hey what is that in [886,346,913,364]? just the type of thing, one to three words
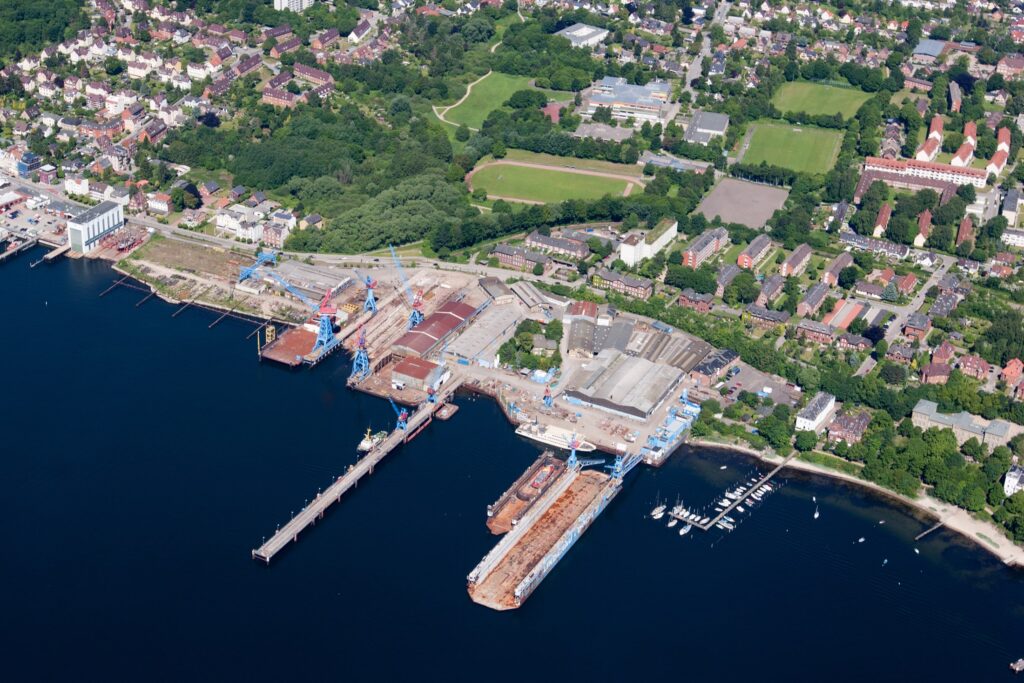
house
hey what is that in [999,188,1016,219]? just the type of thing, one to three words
building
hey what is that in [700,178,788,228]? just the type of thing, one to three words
sports field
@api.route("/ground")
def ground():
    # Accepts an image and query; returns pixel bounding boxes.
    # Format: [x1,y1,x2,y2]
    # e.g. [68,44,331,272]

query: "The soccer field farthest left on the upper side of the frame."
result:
[472,164,630,200]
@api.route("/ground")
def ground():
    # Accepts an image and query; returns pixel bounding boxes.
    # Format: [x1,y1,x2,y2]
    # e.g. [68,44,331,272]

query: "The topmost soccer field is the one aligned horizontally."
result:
[771,80,869,119]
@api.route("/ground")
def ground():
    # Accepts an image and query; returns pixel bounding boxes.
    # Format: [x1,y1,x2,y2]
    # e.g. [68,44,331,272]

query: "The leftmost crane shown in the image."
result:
[266,270,334,356]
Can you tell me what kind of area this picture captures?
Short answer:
port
